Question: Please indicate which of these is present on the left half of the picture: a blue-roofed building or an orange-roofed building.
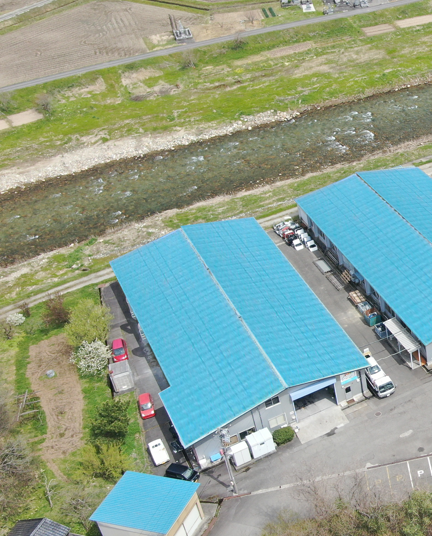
blue-roofed building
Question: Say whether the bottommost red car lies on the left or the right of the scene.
left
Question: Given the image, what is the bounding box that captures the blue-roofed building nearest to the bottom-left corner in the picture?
[87,473,198,536]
